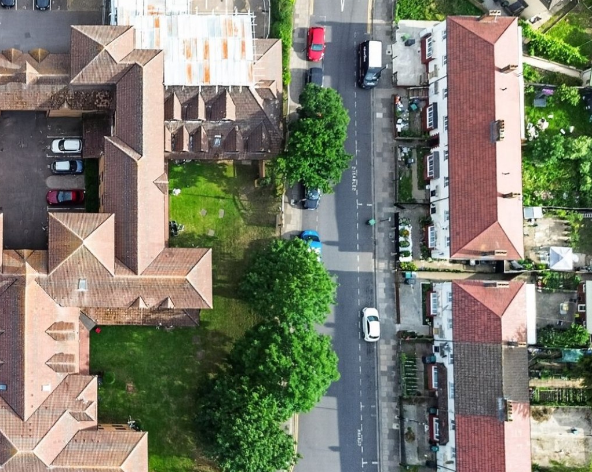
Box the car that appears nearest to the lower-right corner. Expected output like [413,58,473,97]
[360,307,380,341]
